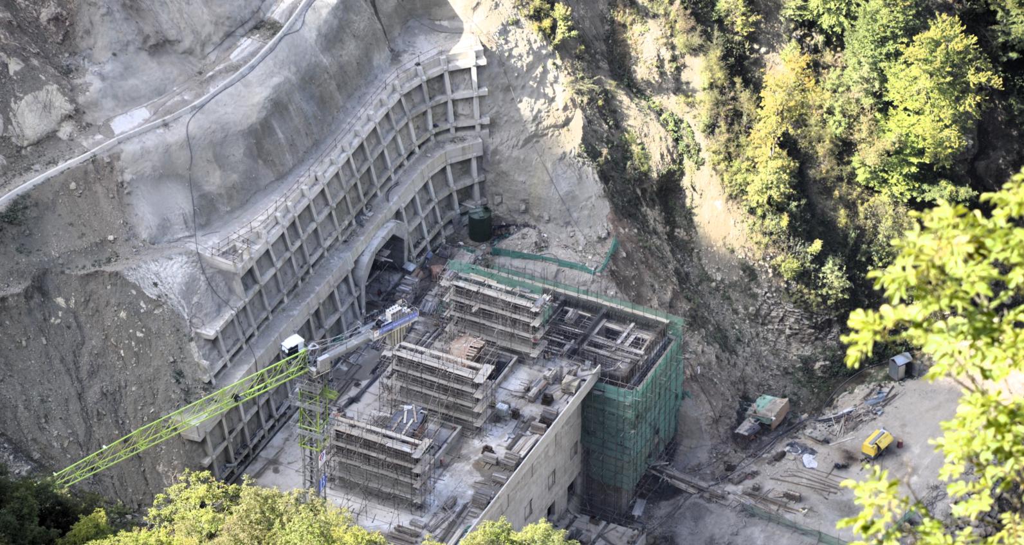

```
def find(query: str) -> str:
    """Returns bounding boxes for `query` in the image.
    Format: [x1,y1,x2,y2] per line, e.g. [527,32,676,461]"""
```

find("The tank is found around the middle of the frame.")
[467,204,492,244]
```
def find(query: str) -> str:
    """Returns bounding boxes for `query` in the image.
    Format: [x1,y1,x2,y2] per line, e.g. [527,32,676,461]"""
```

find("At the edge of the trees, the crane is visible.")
[56,303,423,506]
